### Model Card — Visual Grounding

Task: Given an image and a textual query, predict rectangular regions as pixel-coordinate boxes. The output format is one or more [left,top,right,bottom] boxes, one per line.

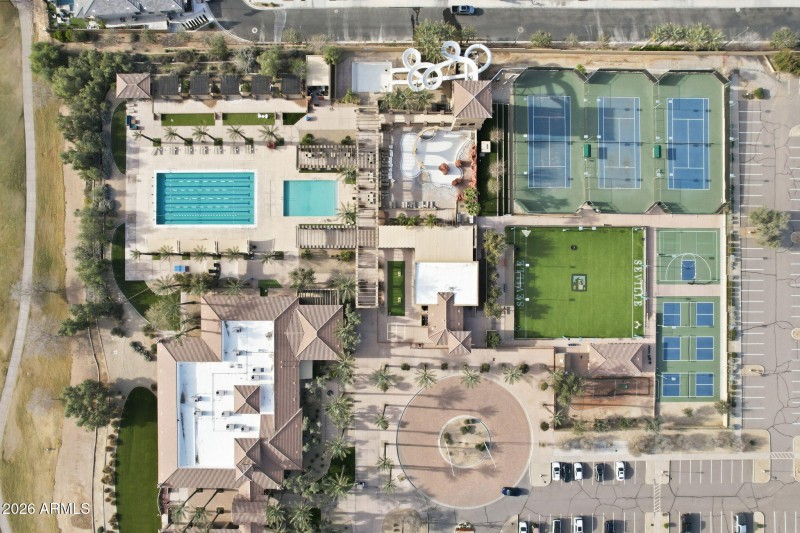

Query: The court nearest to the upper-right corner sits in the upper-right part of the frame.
[665,98,714,190]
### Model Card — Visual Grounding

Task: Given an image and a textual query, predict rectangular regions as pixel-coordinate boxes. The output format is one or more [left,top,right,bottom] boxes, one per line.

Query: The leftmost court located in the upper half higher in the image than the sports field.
[526,96,575,188]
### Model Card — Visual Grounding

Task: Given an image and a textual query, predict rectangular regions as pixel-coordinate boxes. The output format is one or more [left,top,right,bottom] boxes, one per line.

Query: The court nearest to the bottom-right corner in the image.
[662,372,713,399]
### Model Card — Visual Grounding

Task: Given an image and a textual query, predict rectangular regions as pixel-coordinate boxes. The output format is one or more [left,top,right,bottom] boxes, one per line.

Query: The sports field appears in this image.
[514,226,646,339]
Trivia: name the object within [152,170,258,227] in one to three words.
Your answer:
swimming pool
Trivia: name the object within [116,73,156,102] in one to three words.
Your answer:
building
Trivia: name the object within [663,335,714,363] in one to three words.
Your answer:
sports court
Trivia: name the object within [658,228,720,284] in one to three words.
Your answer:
basketball court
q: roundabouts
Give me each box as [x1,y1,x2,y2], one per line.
[395,373,534,511]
